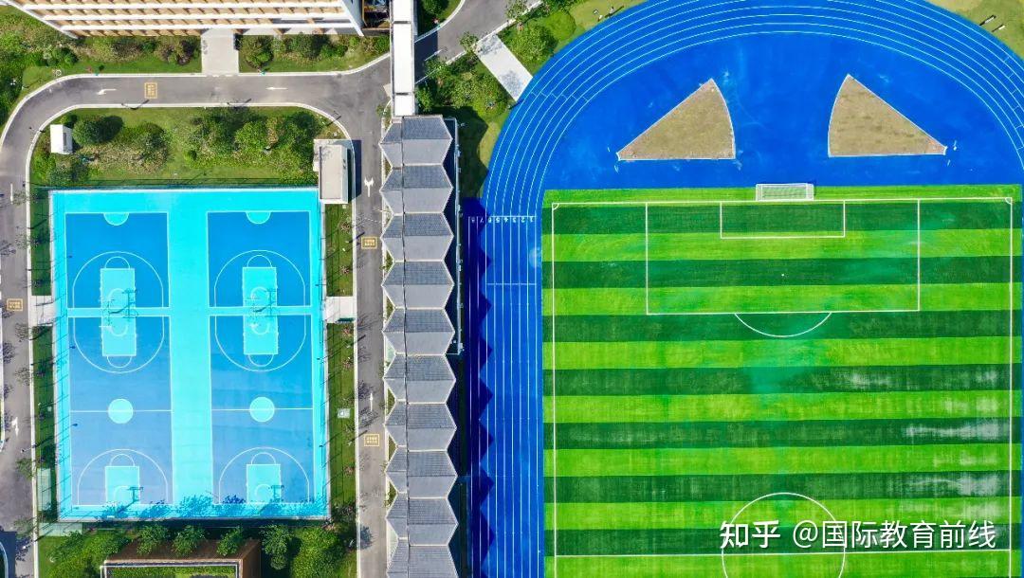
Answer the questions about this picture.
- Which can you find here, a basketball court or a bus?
basketball court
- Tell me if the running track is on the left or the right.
right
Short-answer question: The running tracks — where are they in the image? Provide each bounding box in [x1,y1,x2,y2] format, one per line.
[462,0,1024,578]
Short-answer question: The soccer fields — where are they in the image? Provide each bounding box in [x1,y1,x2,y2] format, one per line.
[542,185,1022,578]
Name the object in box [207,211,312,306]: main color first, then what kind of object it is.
blue basketball court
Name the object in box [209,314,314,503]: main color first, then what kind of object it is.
blue basketball court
